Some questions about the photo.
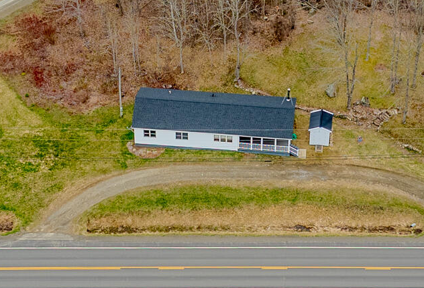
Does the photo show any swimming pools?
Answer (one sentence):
No, no swimming pool can be seen from above.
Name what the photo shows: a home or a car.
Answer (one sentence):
It is a home that can be seen here.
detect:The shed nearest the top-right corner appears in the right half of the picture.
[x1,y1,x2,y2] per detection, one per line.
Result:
[308,110,332,146]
